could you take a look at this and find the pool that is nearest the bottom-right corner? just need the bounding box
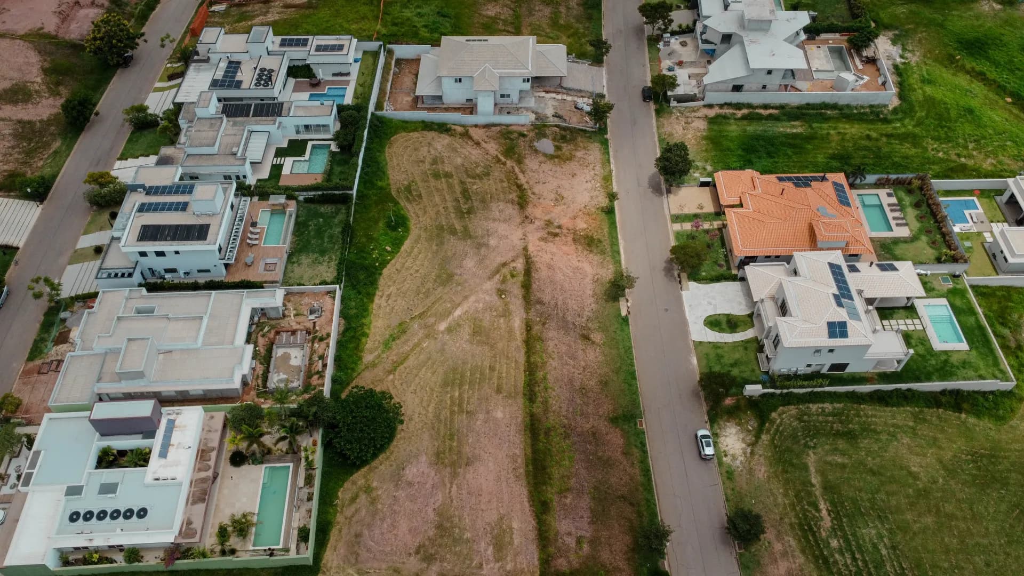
[914,298,969,351]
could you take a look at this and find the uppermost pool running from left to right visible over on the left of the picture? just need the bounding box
[307,86,350,106]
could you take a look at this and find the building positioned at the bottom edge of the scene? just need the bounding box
[4,399,227,576]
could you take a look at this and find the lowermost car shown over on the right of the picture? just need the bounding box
[695,430,716,459]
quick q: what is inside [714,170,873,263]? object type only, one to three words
house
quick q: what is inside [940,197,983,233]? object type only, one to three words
swimming pool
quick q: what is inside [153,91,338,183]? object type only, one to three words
house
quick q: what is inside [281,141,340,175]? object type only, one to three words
swimming pool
